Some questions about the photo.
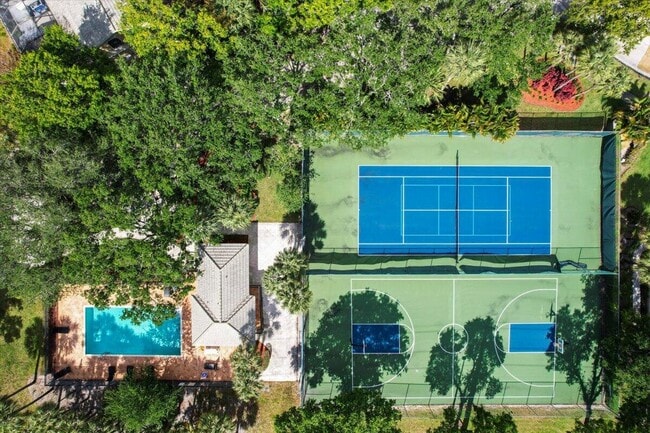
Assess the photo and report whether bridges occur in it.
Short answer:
No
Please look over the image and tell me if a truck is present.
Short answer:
No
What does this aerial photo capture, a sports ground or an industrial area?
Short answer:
sports ground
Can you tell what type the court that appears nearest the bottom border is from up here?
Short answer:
basketball court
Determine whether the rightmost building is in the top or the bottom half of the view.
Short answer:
bottom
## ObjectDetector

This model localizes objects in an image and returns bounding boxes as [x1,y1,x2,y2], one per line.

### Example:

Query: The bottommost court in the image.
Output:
[303,272,604,406]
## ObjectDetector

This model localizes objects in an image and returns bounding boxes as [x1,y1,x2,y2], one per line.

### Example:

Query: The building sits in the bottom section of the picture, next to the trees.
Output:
[190,243,257,347]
